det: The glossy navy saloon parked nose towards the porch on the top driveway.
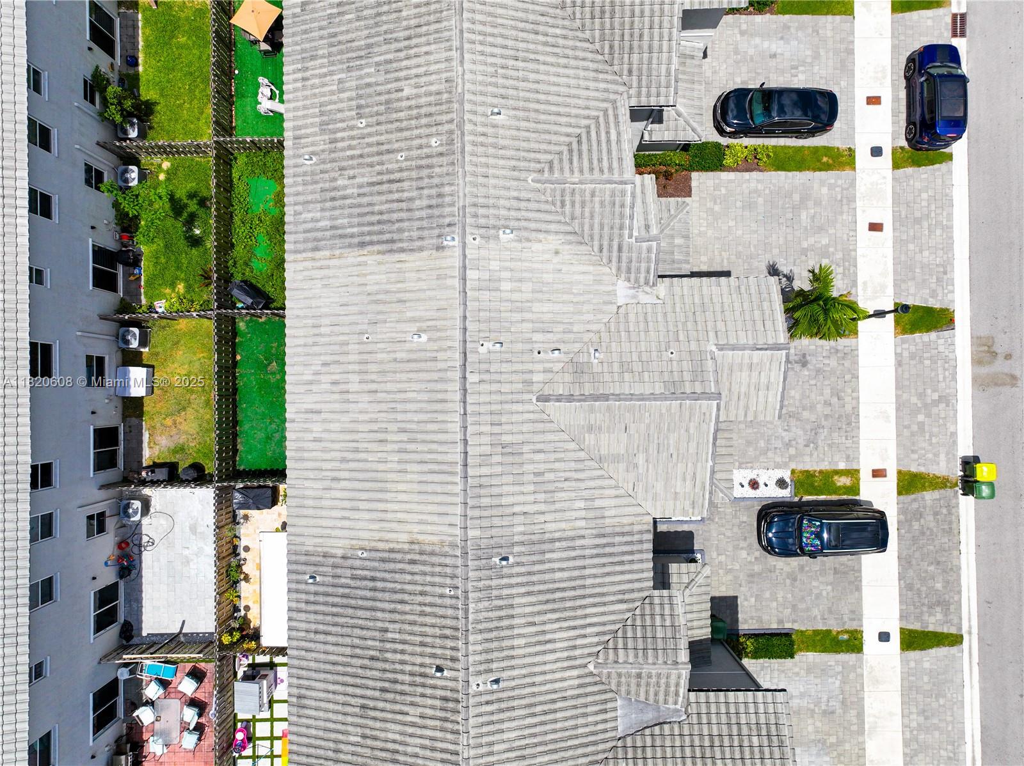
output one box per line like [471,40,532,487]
[713,88,837,145]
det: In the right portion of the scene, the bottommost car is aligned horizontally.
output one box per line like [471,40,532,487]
[757,500,888,557]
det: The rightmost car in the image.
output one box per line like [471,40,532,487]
[903,43,969,151]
